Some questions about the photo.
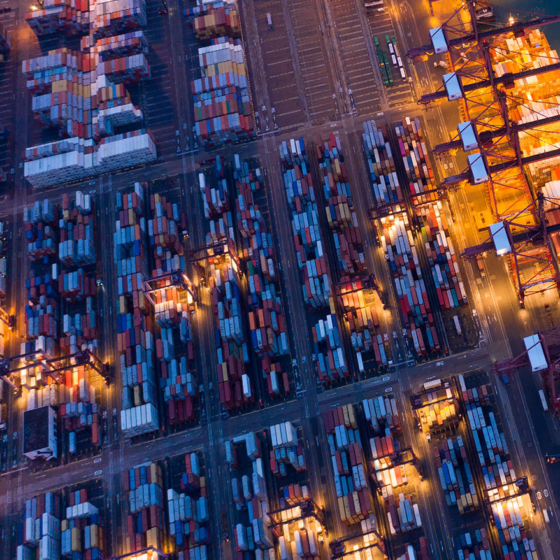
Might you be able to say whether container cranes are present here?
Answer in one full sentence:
Yes, looking at the shot, I can spot a container crane.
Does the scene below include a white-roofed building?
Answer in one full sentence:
No, the frame has no white-roofed building in it.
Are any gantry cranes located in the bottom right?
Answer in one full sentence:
Yes, you'll find a gantry crane in the bottom right.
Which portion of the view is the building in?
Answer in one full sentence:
The building appears toward the bottom left of the photo.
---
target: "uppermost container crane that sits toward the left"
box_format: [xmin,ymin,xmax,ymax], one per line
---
[191,240,245,284]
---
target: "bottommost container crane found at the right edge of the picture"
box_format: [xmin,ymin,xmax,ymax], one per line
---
[481,476,534,524]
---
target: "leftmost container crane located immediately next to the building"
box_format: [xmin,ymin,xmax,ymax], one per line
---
[0,351,60,396]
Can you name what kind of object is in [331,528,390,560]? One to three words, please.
container crane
